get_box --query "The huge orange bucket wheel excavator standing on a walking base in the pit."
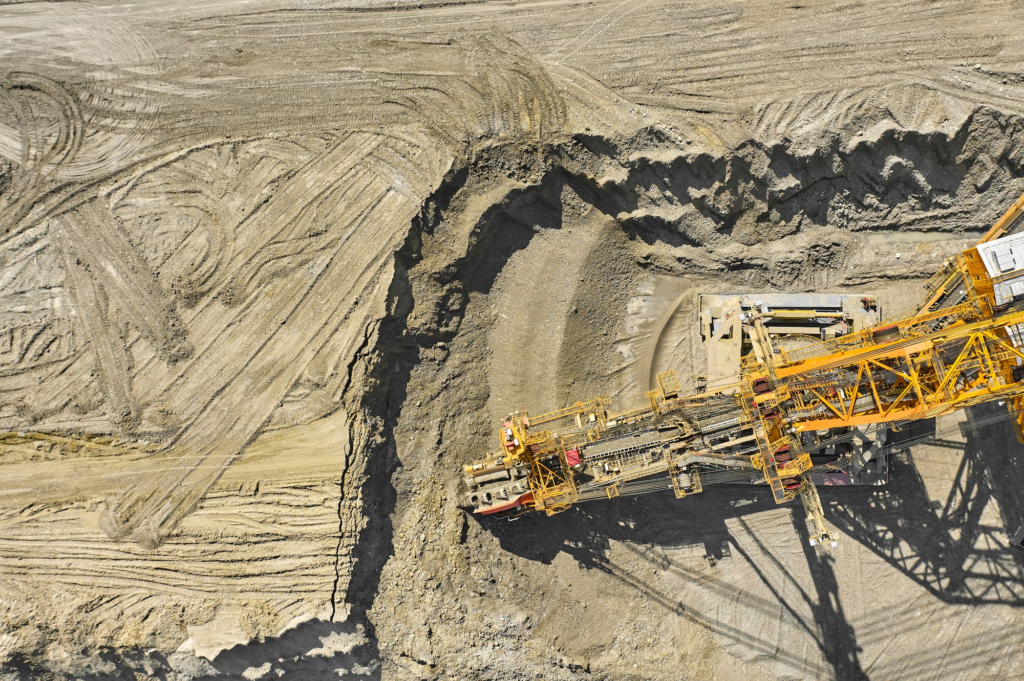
[462,229,1024,555]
